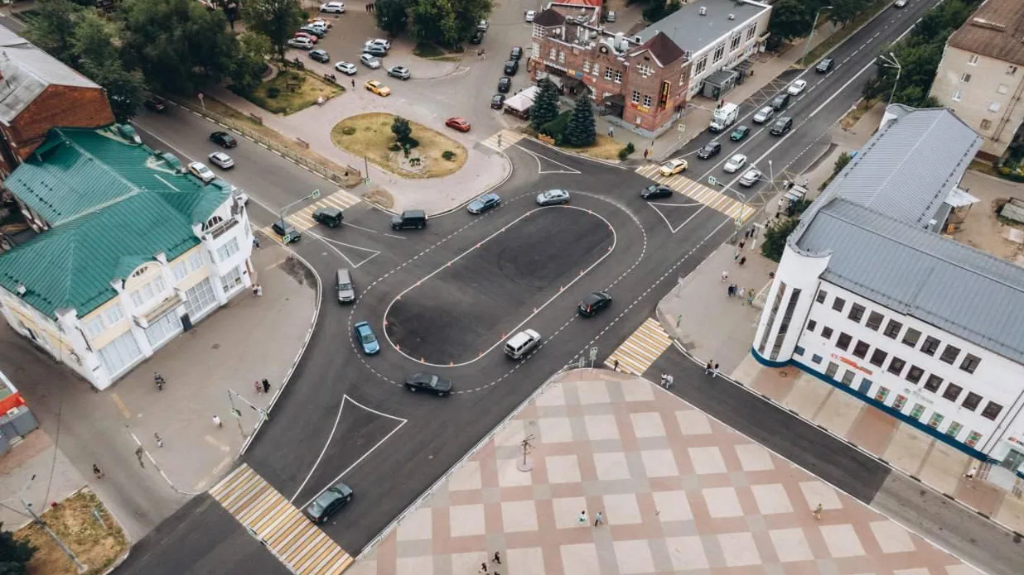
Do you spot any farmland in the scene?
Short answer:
No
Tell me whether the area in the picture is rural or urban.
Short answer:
urban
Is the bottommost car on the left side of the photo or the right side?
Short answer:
left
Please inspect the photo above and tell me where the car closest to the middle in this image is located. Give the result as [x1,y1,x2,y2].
[501,330,543,363]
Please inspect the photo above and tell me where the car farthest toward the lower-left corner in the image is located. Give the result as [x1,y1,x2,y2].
[300,482,359,530]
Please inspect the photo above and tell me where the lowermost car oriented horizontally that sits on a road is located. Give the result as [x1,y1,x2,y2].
[402,372,455,399]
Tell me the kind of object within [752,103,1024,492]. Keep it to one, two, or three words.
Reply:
building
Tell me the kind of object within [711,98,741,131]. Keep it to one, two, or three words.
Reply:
truck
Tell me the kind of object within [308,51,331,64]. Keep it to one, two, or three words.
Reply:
vehicle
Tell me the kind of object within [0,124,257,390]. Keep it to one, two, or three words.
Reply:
building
